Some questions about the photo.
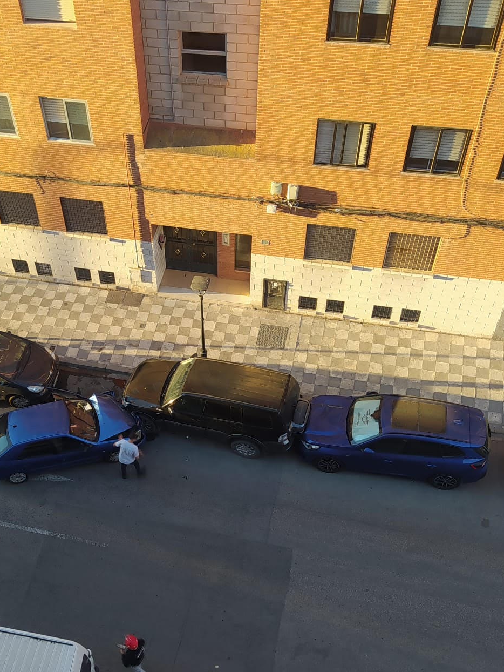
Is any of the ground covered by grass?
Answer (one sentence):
No, there's no grass in this view.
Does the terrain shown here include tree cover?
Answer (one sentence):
No, no tree cover is visible.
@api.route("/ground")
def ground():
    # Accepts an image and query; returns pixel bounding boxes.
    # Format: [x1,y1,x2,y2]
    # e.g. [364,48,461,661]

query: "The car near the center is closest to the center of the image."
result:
[122,350,314,454]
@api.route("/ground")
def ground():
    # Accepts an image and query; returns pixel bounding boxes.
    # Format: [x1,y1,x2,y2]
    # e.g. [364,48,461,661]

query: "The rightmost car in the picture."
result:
[297,381,492,489]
